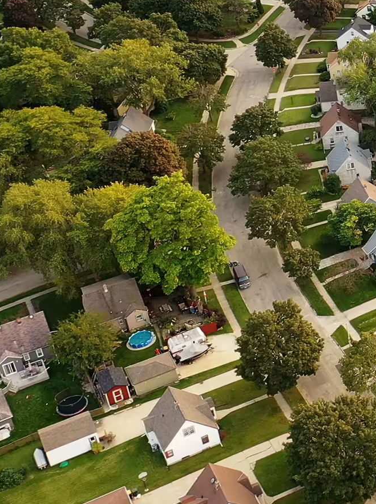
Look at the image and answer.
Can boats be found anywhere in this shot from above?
Yes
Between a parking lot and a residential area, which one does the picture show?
residential area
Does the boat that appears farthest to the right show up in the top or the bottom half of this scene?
bottom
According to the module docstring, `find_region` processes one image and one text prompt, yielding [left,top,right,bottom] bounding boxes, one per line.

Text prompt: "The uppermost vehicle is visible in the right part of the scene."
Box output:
[233,263,251,287]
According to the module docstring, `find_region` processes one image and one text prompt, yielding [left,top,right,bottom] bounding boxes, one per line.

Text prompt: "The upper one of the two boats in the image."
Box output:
[175,341,216,361]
